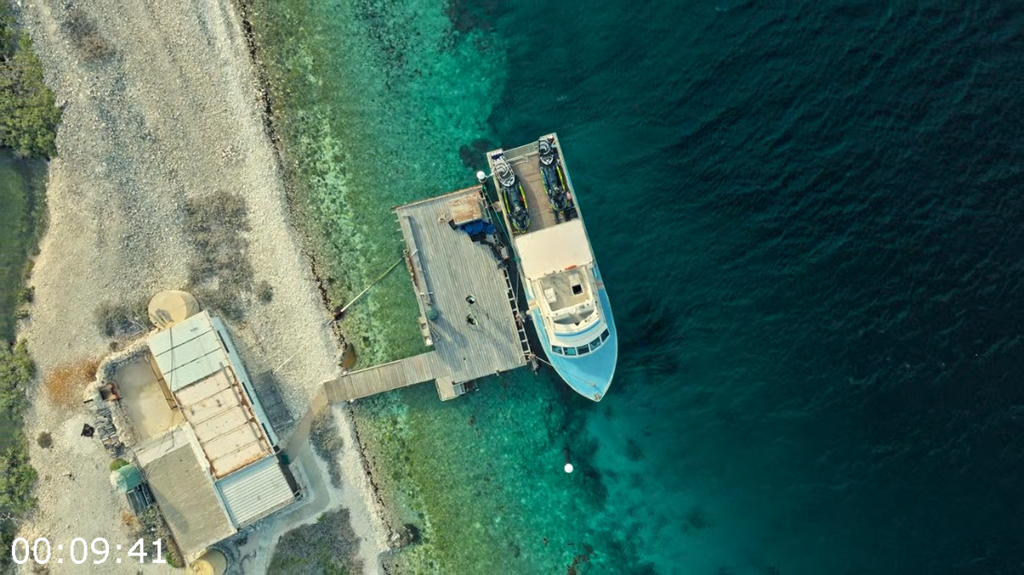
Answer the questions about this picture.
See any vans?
No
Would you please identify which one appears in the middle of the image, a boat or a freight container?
boat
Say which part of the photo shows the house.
bottom left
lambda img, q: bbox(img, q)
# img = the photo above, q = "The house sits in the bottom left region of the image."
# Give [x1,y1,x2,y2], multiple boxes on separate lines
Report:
[135,311,297,560]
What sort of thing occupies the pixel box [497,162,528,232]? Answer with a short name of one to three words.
boat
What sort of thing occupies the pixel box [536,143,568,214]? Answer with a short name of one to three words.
boat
